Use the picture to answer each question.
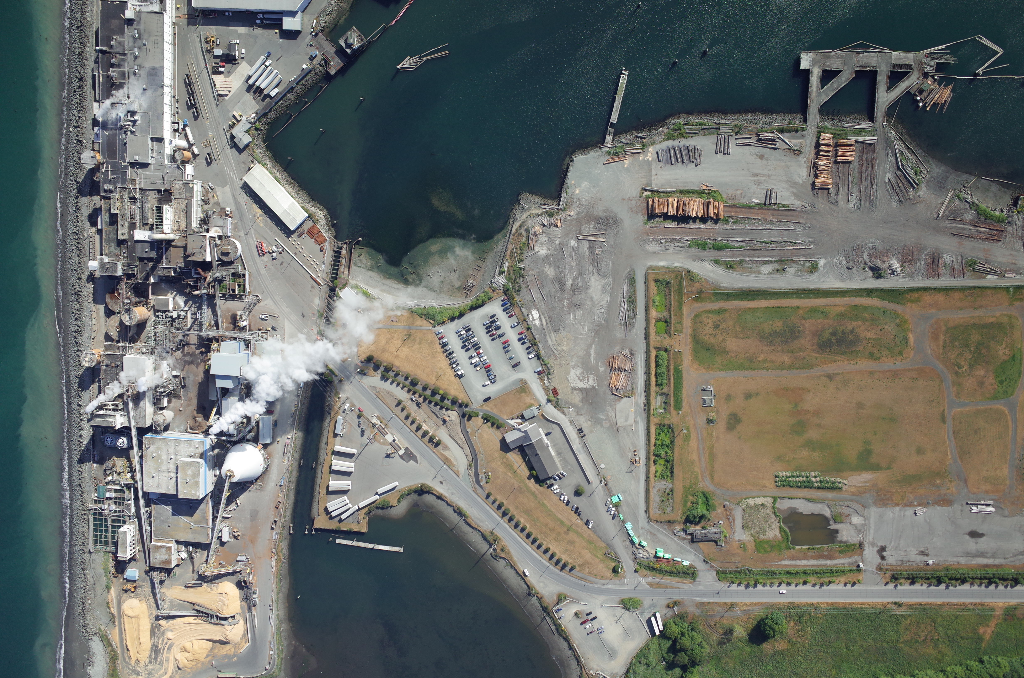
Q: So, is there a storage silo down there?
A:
Yes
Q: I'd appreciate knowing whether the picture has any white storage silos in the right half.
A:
No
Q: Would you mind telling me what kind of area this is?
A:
port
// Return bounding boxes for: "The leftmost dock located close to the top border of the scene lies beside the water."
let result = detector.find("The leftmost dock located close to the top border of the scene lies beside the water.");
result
[311,30,349,75]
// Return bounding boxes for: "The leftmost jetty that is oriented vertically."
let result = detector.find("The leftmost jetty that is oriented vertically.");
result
[604,71,628,144]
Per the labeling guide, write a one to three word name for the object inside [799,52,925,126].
pier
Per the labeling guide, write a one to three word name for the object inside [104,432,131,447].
cooling tower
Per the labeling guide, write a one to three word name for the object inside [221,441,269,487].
silo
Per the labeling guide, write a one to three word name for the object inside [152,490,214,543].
building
